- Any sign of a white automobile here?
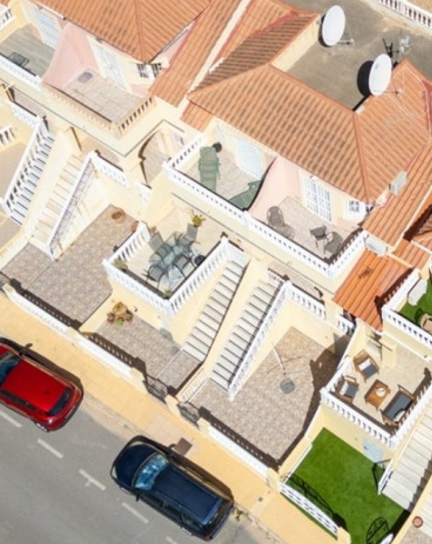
No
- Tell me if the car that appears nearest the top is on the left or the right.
left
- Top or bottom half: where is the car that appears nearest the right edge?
bottom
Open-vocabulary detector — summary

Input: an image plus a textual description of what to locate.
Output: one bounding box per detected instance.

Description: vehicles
[115,440,236,543]
[0,347,83,433]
